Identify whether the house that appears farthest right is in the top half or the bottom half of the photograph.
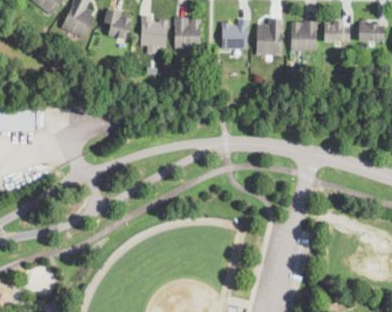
top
